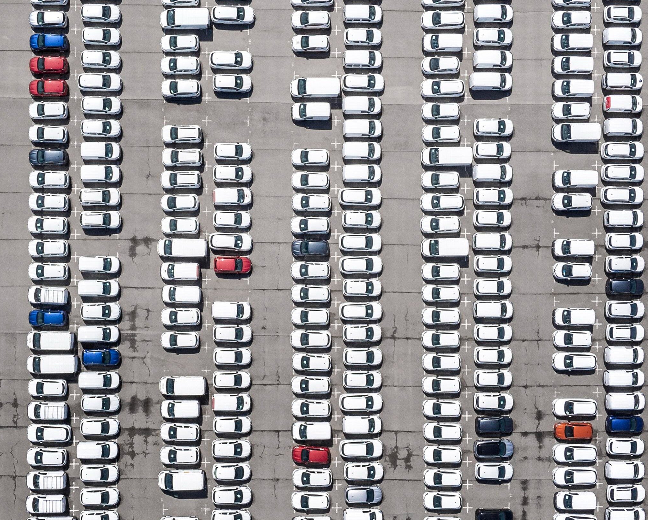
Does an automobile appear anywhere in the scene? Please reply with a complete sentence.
Yes, there is an automobile in the image.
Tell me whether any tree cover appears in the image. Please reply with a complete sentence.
No, the scene doesn't show any tree cover.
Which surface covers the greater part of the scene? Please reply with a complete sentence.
What you mostly see from above here is paved ground.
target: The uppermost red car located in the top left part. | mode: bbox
[30,55,67,74]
